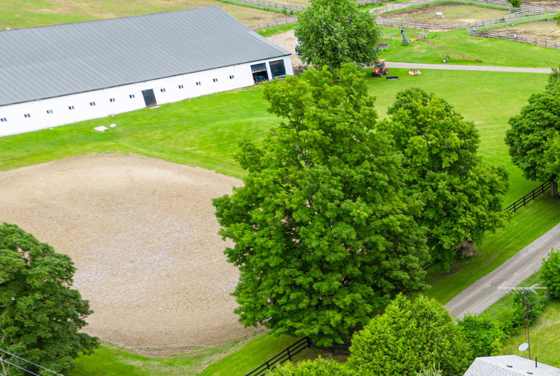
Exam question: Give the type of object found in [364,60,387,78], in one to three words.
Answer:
work vehicle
